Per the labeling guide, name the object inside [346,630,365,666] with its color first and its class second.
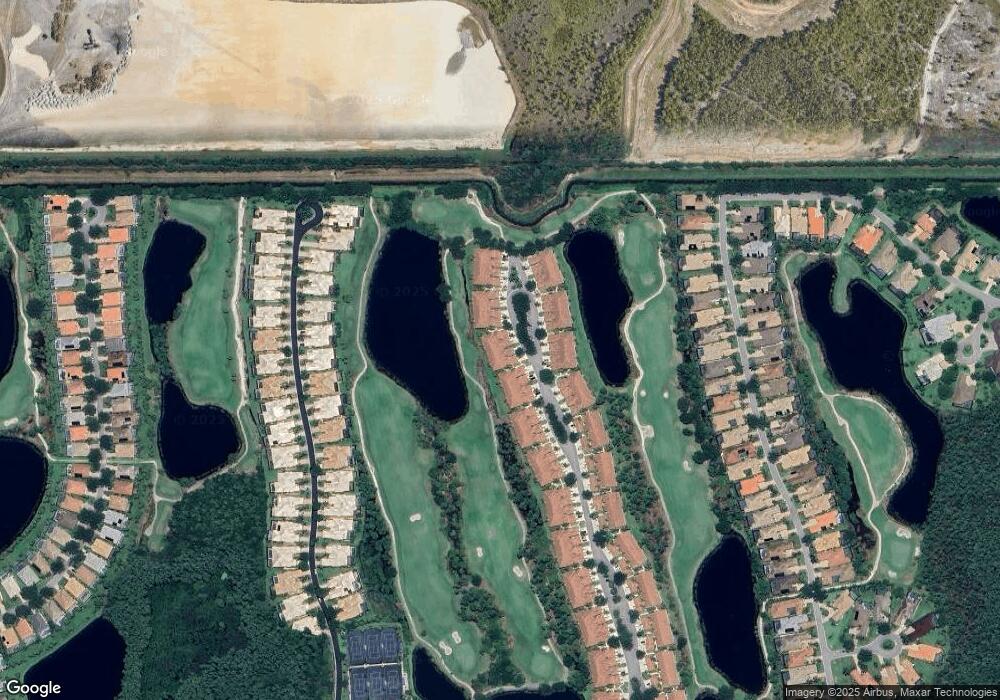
blue tennis court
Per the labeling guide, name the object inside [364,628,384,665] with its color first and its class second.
blue tennis court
